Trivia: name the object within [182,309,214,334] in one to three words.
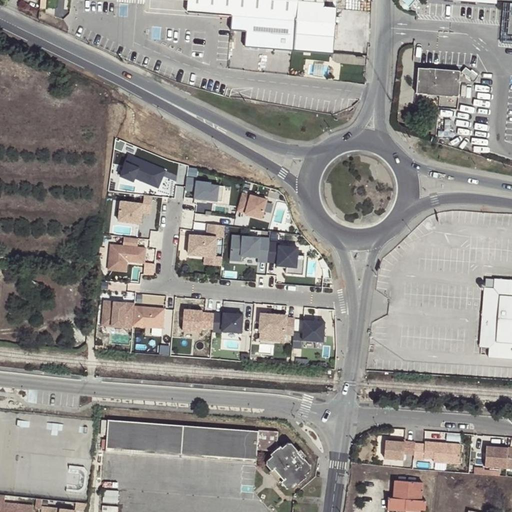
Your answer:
house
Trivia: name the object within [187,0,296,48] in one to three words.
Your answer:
building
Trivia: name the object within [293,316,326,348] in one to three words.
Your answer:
house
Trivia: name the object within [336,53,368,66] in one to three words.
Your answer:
shed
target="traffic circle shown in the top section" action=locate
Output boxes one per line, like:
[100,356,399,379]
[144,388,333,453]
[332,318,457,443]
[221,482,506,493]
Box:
[296,128,420,251]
